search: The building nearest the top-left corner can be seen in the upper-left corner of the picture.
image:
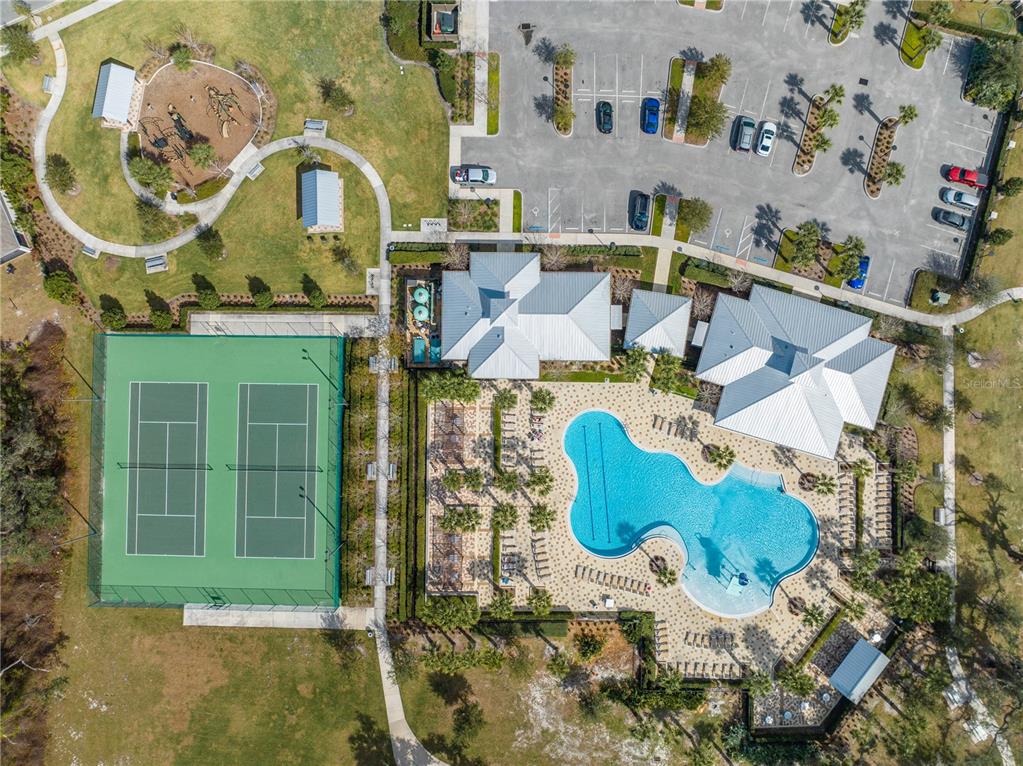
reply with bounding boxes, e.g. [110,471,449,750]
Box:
[92,62,144,128]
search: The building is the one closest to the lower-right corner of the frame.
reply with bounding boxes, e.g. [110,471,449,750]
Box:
[822,634,889,702]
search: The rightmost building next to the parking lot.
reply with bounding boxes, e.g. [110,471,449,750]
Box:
[694,285,897,458]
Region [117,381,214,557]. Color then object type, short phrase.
green tennis court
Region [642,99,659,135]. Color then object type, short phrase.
blue car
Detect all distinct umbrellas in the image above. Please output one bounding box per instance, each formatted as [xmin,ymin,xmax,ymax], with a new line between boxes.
[414,288,430,305]
[414,306,430,323]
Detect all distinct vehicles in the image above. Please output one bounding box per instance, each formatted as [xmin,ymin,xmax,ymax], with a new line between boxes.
[846,256,869,291]
[734,115,755,155]
[452,167,497,186]
[944,167,989,188]
[642,99,659,135]
[596,100,613,137]
[941,188,981,209]
[756,122,776,159]
[931,209,969,231]
[632,193,650,231]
